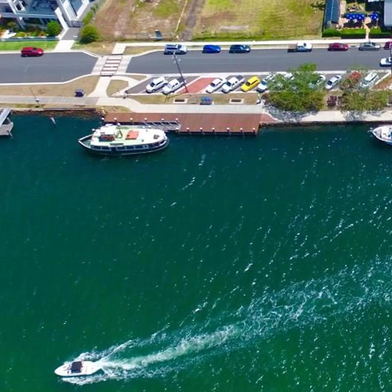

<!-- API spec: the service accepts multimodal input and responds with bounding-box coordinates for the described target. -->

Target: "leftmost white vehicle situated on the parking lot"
[147,76,166,90]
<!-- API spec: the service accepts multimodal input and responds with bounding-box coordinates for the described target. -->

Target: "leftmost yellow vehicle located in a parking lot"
[242,75,260,89]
